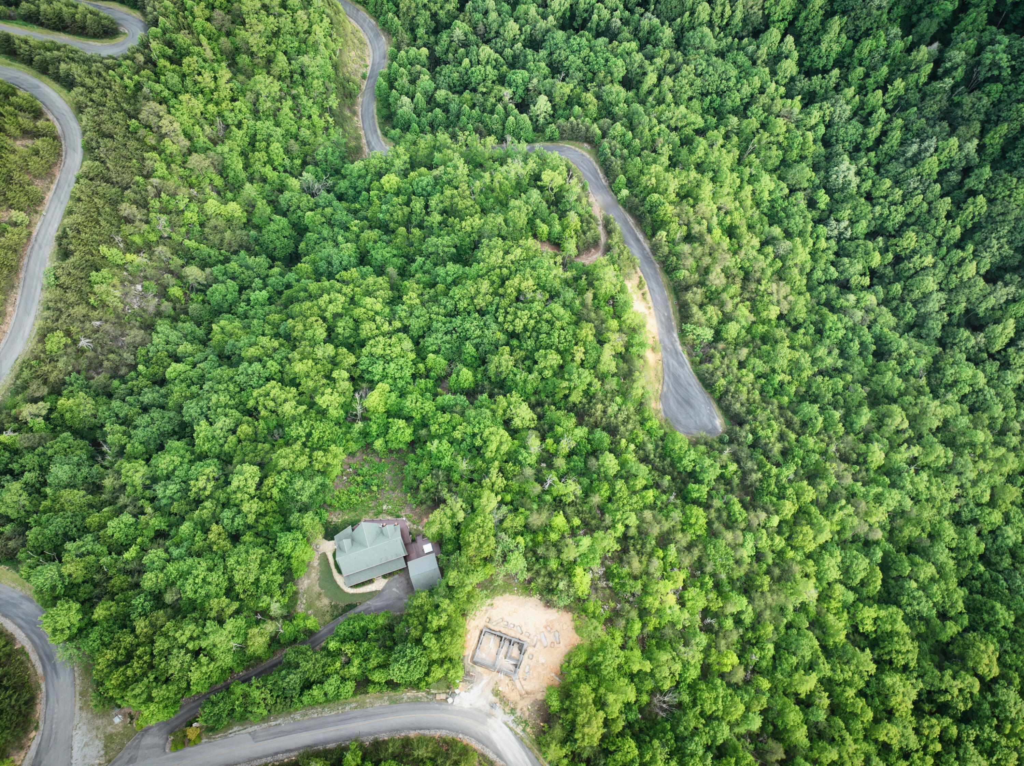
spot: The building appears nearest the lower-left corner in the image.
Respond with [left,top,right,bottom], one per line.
[334,522,408,588]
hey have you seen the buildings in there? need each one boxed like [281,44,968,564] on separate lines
[407,553,441,592]
[334,522,408,588]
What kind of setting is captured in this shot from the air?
forest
